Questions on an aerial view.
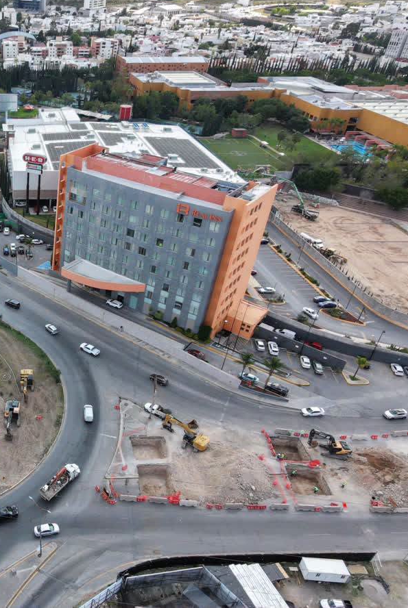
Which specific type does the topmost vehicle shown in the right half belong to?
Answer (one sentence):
The topmost vehicle shown in the right half can be classified as a truck.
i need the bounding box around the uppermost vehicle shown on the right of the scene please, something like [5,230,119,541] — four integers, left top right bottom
[241,170,316,218]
